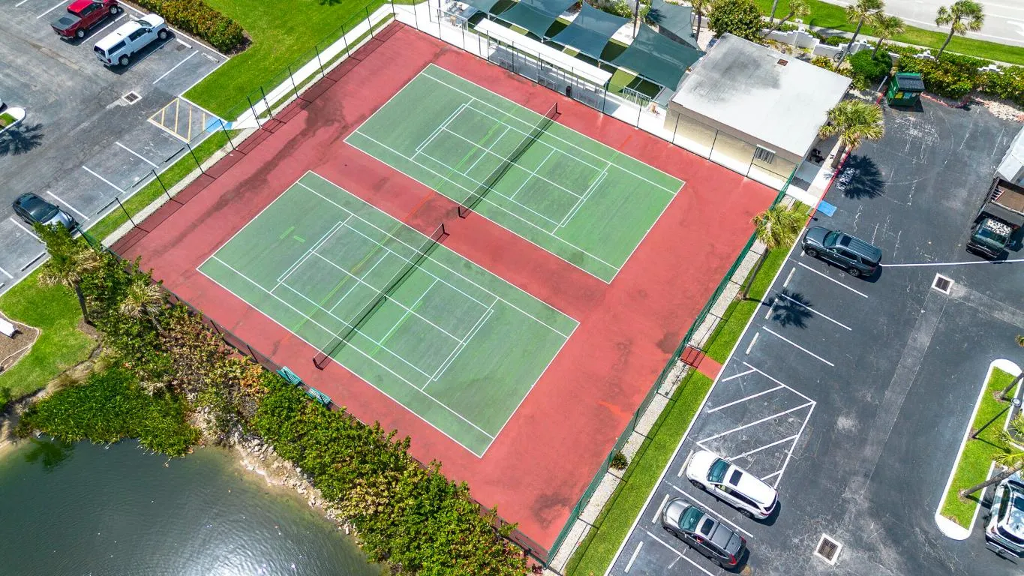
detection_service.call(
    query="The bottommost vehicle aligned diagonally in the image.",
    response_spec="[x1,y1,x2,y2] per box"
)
[660,499,748,571]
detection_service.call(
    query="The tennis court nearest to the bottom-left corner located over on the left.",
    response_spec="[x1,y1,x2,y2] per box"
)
[197,170,581,458]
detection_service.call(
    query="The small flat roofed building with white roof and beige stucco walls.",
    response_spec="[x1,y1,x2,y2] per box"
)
[666,31,855,181]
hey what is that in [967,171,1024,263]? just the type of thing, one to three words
truck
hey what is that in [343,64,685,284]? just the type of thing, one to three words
tennis court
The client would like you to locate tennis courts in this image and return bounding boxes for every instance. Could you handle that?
[343,64,685,284]
[197,170,581,458]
